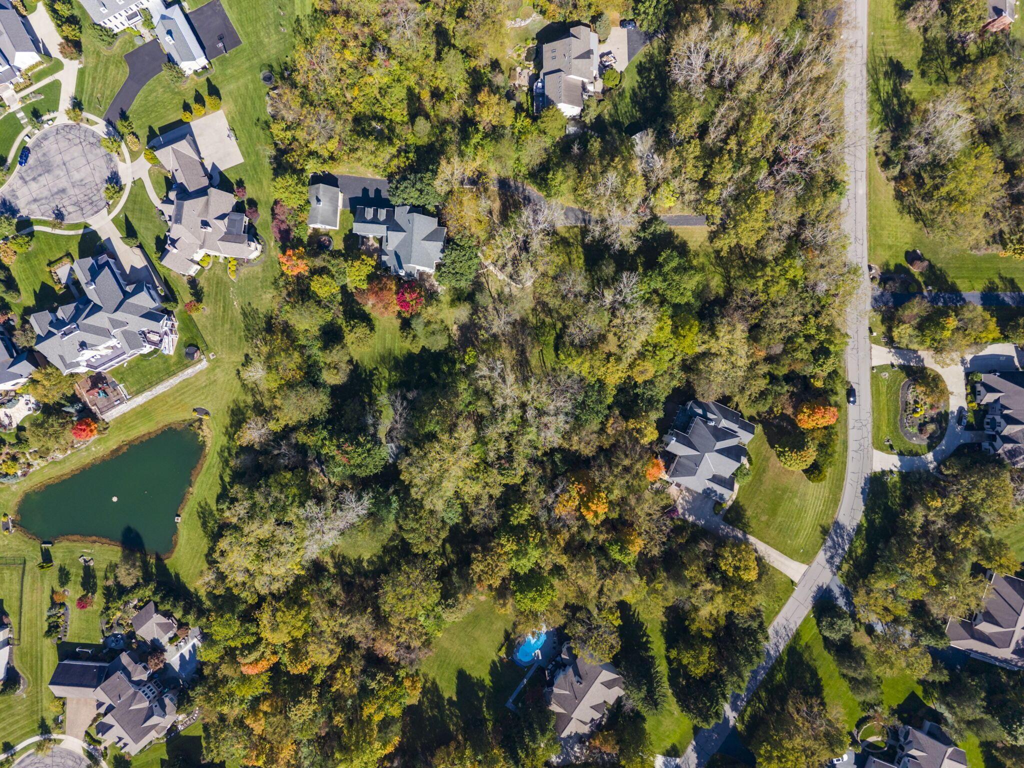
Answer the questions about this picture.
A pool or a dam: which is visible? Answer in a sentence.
The image shows a pool.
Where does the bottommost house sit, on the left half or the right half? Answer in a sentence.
The bottommost house is on the right side of the image.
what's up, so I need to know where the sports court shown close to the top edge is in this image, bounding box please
[186,0,242,58]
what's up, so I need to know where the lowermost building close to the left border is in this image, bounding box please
[47,647,181,755]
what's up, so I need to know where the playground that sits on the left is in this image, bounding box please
[76,373,124,415]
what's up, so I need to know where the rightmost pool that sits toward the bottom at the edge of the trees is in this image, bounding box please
[516,632,548,663]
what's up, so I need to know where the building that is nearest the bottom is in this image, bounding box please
[857,714,967,768]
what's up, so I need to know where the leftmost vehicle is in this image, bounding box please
[17,146,31,166]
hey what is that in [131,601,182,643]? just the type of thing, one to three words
building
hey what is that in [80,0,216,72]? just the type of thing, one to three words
house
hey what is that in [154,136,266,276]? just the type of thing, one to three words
house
